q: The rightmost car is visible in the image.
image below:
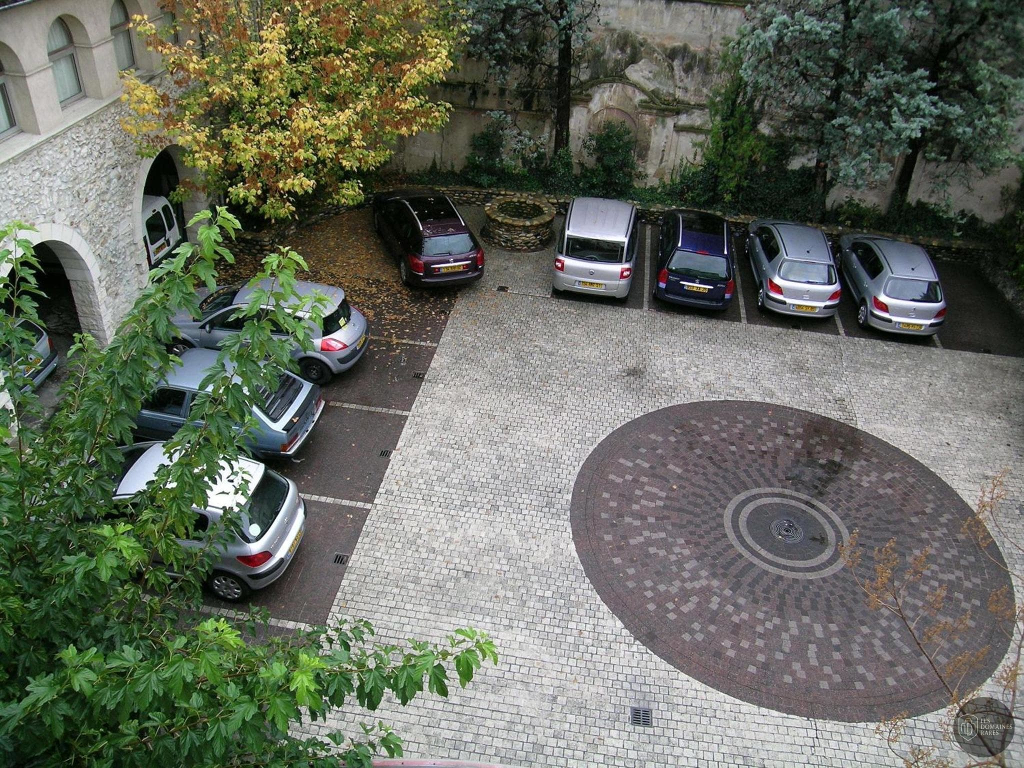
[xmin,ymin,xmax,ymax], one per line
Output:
[837,232,950,334]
